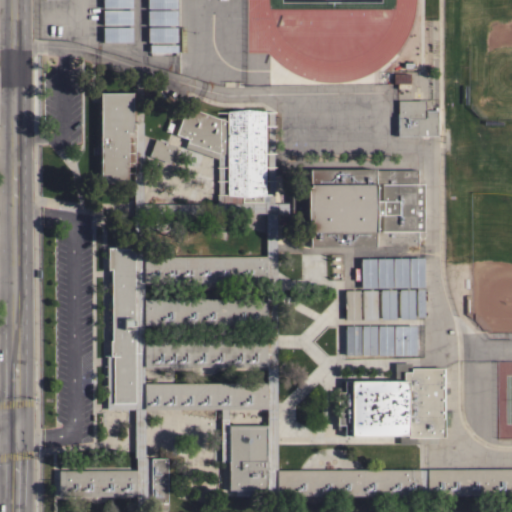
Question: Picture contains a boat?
No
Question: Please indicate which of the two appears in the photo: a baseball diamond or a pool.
baseball diamond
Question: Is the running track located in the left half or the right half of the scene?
right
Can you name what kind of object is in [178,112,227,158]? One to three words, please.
building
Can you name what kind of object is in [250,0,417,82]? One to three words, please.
running track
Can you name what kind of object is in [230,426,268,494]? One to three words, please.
building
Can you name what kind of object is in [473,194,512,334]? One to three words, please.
baseball field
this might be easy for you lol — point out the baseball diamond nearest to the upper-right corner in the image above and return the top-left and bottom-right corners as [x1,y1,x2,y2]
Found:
[471,0,512,121]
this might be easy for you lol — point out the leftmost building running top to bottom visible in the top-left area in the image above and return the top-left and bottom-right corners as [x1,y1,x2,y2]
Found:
[102,93,136,180]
